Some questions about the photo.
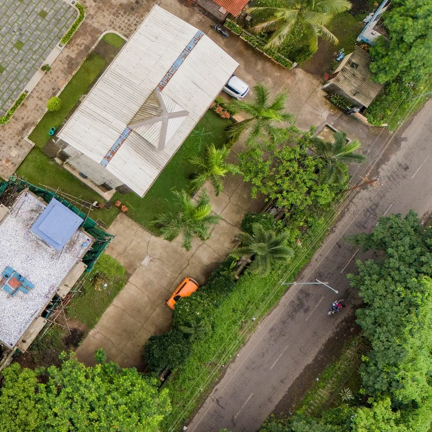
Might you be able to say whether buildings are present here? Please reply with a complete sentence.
Yes, there's a building here.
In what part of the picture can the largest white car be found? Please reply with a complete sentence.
You can find the largest white car in the top area of the picture.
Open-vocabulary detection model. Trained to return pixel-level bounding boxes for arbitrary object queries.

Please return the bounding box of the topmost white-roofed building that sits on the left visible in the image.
[54,3,239,201]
